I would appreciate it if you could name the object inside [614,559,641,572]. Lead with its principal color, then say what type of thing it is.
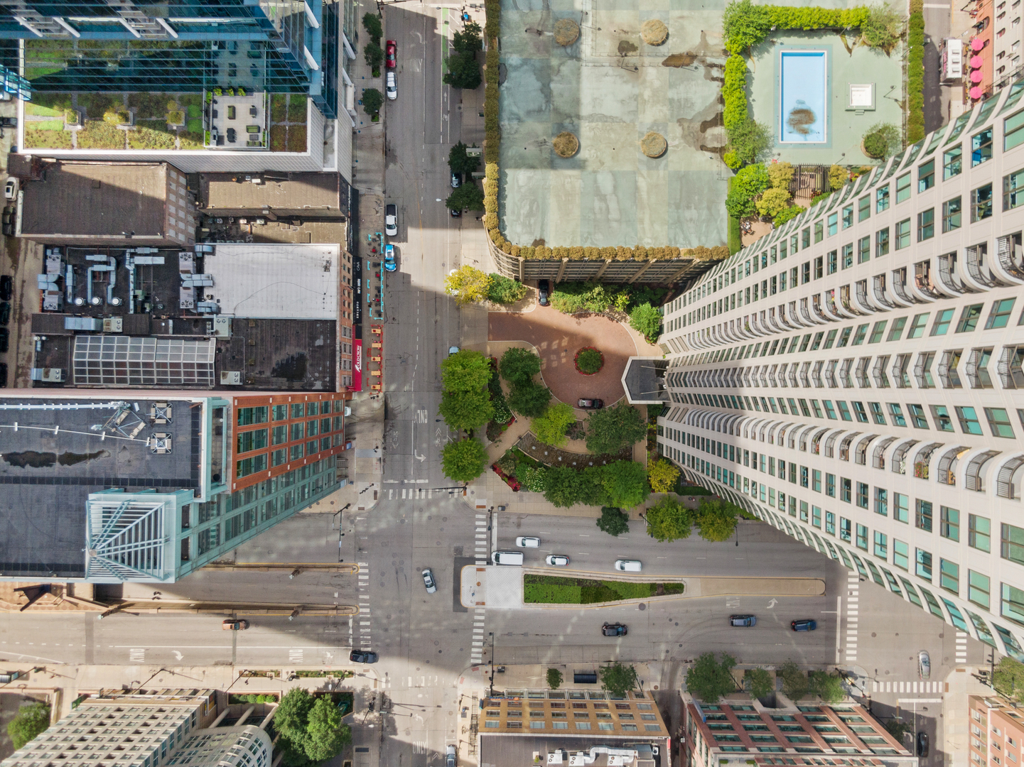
white vehicle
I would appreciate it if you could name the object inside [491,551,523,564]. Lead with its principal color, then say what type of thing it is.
white vehicle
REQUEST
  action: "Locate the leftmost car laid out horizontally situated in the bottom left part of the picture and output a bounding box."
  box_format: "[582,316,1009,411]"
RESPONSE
[224,618,249,630]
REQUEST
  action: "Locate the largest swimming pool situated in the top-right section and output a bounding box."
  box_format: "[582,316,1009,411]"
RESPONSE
[780,49,828,145]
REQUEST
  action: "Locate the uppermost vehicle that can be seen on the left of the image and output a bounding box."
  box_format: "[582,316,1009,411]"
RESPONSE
[385,42,397,70]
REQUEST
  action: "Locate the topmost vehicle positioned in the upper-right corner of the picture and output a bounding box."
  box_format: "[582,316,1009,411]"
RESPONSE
[938,37,961,88]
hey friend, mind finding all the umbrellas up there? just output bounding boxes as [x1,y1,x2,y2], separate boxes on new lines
[968,71,982,82]
[969,87,981,98]
[969,56,982,68]
[968,39,982,50]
